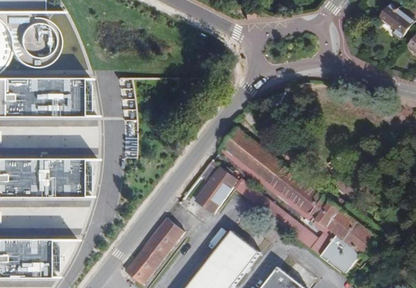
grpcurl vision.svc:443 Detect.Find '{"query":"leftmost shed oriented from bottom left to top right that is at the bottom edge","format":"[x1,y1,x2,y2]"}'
[126,217,187,288]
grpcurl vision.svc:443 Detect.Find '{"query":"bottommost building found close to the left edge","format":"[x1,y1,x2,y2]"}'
[0,238,82,283]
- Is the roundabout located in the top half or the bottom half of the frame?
top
